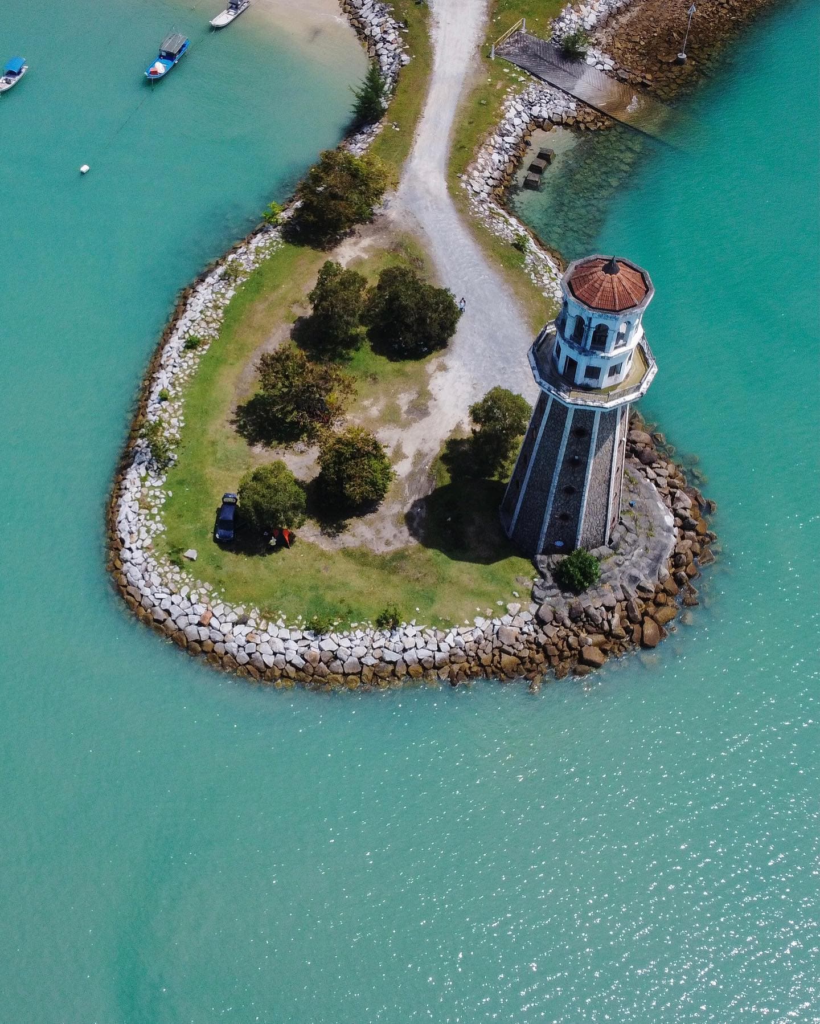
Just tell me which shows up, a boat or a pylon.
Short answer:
boat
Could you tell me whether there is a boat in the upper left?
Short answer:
Yes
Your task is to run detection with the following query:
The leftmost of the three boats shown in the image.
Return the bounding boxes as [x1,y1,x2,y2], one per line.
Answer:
[0,54,32,92]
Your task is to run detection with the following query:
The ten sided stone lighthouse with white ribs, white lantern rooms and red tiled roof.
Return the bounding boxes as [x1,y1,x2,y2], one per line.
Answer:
[505,255,657,554]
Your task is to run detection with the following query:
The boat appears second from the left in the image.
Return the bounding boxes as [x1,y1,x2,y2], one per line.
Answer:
[146,20,196,79]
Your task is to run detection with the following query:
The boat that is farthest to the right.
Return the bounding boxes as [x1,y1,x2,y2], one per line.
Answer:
[210,0,255,27]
